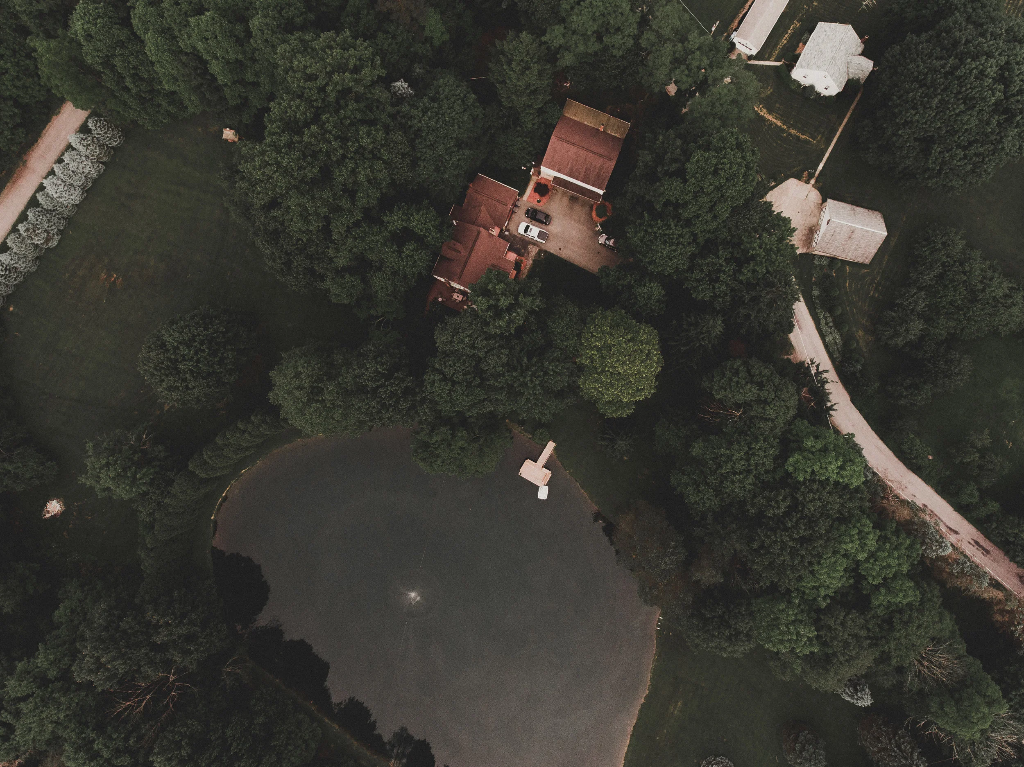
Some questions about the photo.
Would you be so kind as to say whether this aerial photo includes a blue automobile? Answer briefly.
No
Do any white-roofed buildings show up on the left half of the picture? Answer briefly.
No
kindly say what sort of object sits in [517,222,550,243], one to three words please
truck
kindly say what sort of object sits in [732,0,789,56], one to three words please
building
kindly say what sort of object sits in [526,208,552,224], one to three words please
car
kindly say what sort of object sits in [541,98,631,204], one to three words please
house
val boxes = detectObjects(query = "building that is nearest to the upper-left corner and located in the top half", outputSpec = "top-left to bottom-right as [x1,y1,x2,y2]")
[433,174,519,290]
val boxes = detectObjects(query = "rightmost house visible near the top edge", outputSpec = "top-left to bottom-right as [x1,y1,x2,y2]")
[788,21,876,99]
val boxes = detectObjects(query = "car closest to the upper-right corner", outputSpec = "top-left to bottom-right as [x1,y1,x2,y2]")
[598,231,623,250]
